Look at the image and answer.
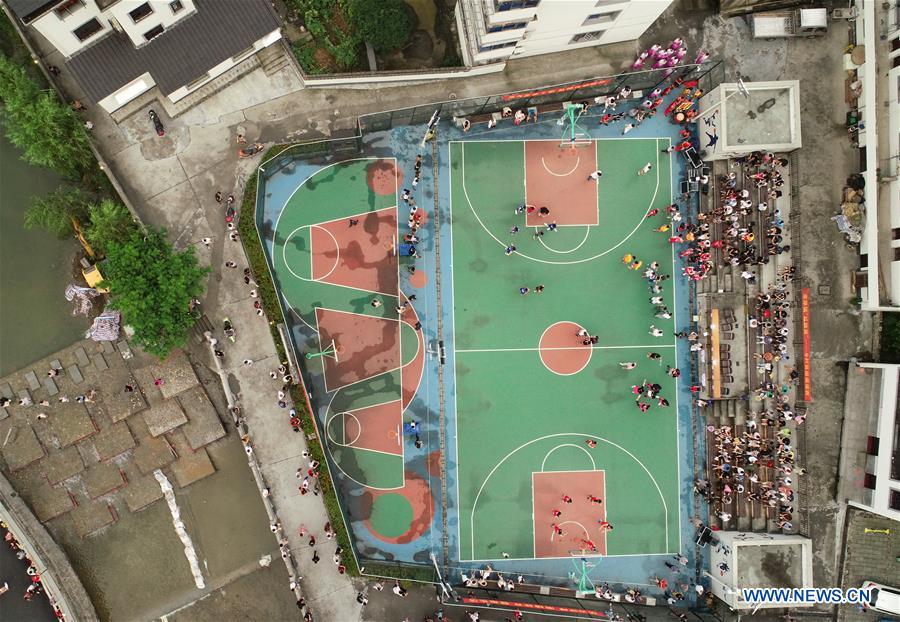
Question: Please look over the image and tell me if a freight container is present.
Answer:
No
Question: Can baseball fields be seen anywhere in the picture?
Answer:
No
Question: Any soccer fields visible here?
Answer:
No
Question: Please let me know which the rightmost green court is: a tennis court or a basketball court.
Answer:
basketball court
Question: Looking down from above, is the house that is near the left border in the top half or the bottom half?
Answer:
top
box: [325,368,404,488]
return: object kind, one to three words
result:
basketball court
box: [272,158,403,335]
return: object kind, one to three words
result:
basketball court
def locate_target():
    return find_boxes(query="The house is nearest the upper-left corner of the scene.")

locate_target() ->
[5,0,287,124]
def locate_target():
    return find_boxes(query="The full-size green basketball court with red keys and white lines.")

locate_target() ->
[450,136,682,561]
